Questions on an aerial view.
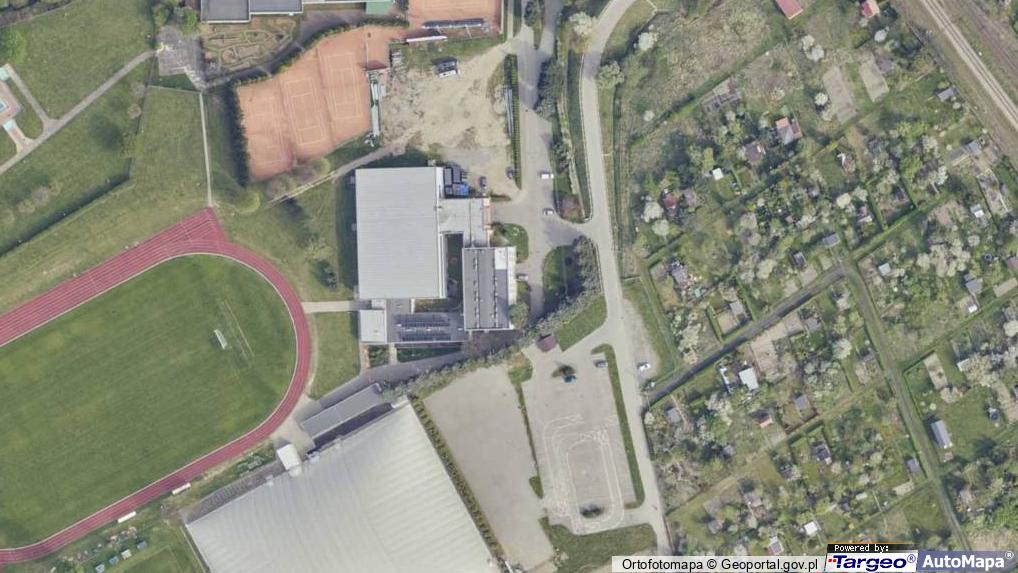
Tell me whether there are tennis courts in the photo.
Yes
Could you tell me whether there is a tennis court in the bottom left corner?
No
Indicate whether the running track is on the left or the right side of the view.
left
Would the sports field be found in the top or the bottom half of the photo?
bottom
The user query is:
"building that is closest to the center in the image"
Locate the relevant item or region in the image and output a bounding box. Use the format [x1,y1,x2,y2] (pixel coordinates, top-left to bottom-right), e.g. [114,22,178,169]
[462,247,517,332]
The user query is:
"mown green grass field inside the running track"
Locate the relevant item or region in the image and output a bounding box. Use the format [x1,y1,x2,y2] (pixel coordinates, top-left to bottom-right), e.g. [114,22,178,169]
[0,254,296,549]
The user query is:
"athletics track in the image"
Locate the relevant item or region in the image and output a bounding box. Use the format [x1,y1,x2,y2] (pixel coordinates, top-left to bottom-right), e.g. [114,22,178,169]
[0,205,311,564]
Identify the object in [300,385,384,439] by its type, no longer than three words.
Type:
building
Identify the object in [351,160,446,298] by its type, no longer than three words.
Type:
building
